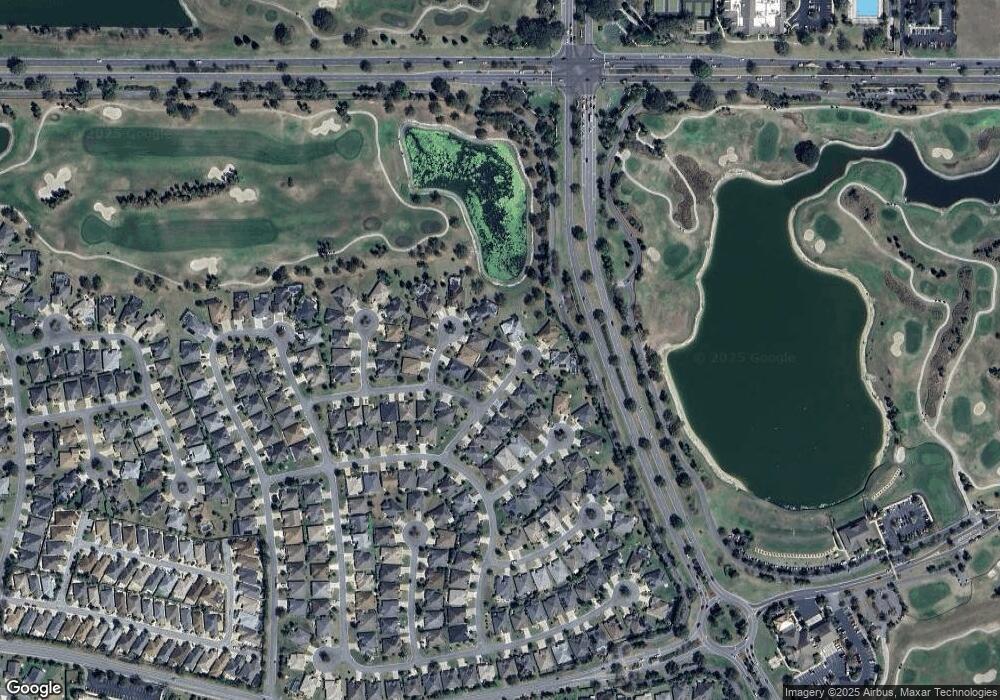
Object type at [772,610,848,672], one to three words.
building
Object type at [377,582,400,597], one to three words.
house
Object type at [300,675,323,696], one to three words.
house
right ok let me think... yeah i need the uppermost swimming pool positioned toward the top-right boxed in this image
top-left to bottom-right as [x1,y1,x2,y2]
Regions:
[851,0,884,26]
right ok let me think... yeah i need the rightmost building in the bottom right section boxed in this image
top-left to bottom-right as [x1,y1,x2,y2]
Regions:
[829,519,871,557]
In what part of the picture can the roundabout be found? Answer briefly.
bottom right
